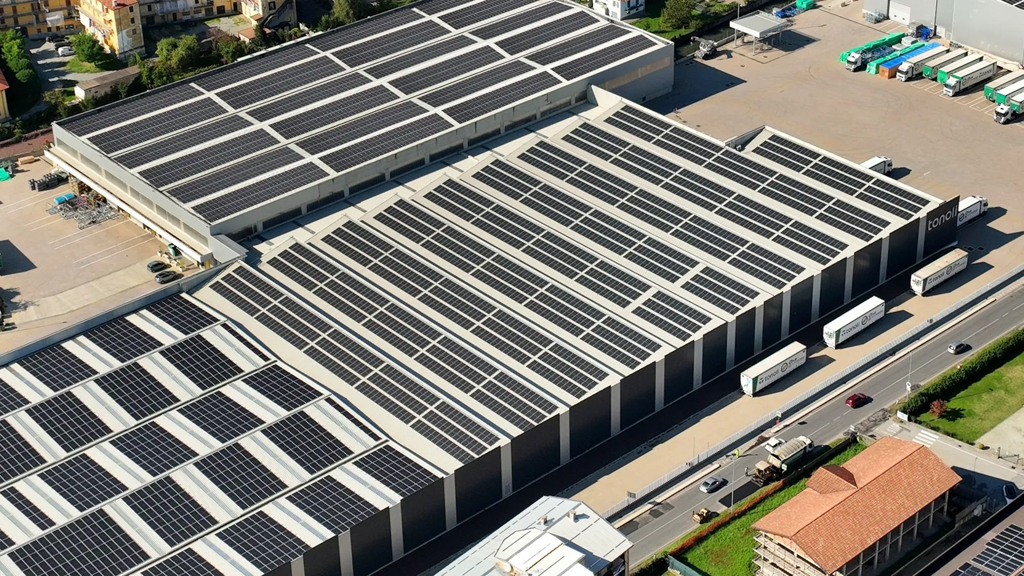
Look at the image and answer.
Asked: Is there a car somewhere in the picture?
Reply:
Yes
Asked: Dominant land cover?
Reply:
buildings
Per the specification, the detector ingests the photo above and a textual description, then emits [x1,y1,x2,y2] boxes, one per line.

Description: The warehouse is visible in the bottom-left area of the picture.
[0,292,451,576]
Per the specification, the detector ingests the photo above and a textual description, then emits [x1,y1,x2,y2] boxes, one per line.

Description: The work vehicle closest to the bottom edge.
[694,505,714,524]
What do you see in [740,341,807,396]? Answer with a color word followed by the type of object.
white trailer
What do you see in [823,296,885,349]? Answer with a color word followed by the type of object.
white trailer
